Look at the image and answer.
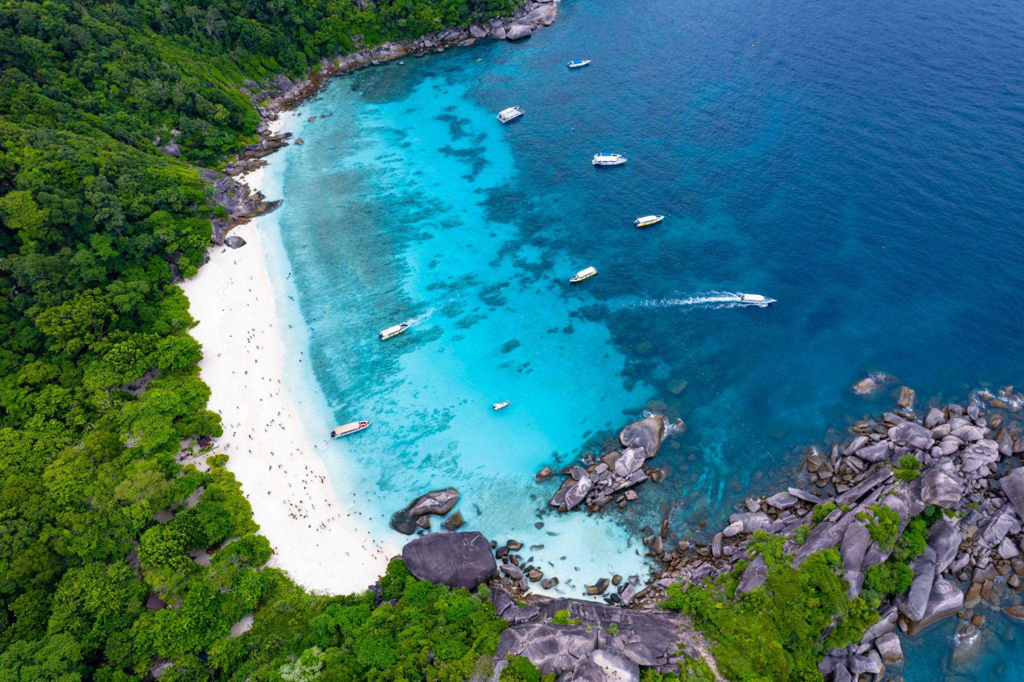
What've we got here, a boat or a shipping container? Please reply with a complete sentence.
Looking from above, you can make out a boat.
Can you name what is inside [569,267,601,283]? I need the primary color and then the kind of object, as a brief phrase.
white boat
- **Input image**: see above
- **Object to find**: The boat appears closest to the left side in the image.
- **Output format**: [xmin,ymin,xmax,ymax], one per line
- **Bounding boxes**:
[327,420,370,440]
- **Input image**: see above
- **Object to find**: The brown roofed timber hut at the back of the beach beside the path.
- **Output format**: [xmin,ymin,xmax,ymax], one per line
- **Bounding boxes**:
[193,432,219,455]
